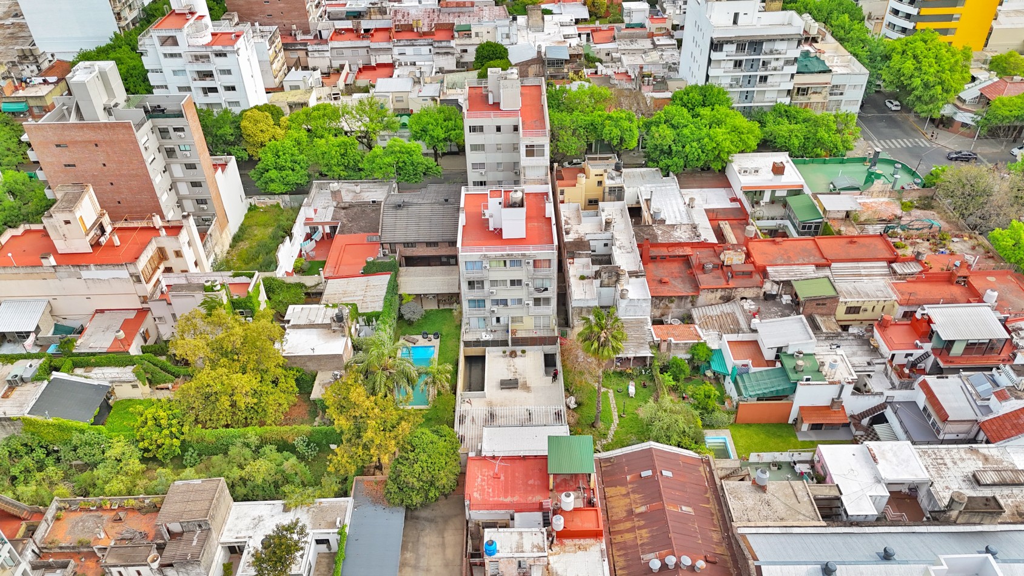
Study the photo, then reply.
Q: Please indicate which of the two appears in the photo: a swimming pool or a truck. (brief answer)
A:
swimming pool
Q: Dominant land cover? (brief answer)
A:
buildings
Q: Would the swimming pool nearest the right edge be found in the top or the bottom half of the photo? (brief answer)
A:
bottom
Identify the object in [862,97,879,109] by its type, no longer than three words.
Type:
vehicle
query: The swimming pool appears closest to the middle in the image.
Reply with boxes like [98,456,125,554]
[389,335,443,412]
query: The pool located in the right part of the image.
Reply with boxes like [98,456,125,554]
[704,429,738,460]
